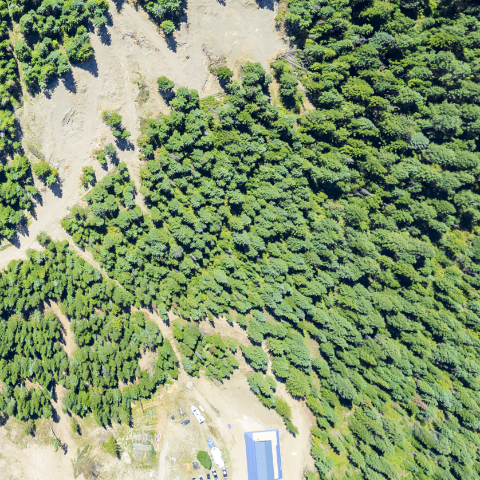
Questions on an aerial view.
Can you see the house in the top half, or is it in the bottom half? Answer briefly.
bottom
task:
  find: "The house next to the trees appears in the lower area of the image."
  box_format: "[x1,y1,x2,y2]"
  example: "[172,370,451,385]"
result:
[244,427,283,480]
